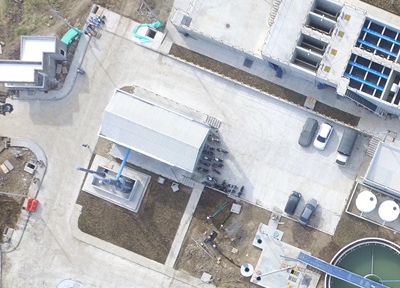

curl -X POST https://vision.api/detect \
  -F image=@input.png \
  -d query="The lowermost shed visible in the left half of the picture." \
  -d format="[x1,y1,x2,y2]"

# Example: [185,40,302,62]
[98,89,211,175]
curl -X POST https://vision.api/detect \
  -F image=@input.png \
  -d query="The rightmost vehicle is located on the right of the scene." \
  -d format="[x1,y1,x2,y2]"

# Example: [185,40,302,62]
[332,123,359,167]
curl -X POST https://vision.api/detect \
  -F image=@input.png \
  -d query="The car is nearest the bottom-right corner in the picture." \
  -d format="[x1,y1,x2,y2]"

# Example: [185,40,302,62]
[297,198,318,228]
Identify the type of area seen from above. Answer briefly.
industrial area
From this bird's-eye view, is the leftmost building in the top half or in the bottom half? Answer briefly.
top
